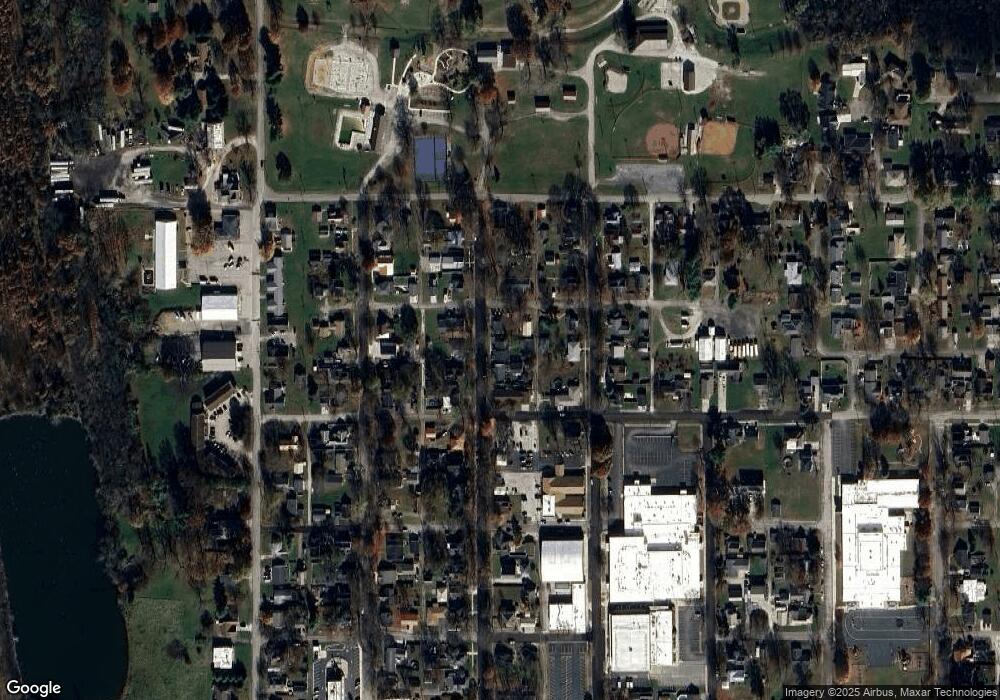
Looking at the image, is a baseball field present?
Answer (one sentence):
Yes, there's a baseball field here.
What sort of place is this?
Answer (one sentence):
This looks like a residential area.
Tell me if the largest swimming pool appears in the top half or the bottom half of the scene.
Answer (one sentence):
It is in the top half that the largest swimming pool appears.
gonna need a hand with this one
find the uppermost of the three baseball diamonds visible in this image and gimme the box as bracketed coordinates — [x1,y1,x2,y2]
[717,0,749,25]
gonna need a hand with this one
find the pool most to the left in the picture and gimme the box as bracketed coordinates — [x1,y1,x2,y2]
[334,108,366,150]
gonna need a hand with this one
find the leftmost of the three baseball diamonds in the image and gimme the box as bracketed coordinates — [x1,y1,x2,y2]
[646,122,682,159]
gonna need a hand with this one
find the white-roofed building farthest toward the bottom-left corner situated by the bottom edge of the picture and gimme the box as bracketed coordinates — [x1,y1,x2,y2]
[213,647,232,669]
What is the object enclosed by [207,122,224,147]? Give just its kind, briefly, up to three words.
barn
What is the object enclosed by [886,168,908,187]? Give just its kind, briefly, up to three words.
house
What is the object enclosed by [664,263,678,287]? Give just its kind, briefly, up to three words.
house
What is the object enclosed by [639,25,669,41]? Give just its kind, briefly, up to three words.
building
